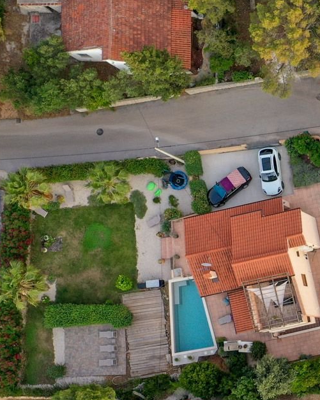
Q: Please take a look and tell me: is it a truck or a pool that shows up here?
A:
pool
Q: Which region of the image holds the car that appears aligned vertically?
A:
right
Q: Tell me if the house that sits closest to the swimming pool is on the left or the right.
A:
right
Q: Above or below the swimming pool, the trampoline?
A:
above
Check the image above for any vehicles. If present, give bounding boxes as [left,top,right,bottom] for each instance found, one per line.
[258,149,284,197]
[208,165,254,205]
